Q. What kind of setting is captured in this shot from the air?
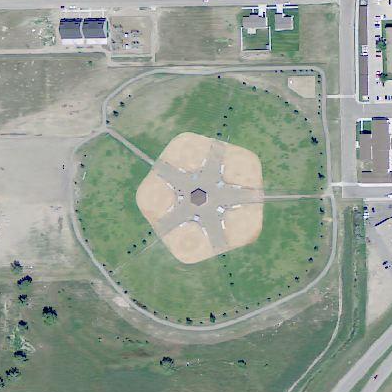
sports ground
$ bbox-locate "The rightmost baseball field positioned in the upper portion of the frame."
[215,69,329,195]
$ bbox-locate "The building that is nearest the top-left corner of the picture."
[60,23,83,38]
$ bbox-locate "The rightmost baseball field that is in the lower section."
[216,198,334,319]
